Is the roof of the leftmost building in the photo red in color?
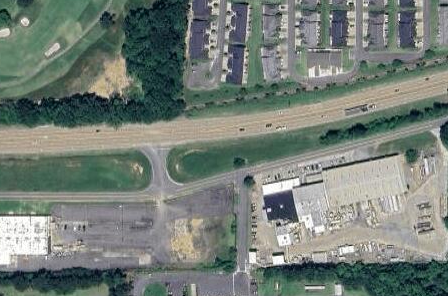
No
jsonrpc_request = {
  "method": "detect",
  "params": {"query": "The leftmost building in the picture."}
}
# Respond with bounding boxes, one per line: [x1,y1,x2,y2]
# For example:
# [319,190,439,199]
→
[0,215,50,264]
